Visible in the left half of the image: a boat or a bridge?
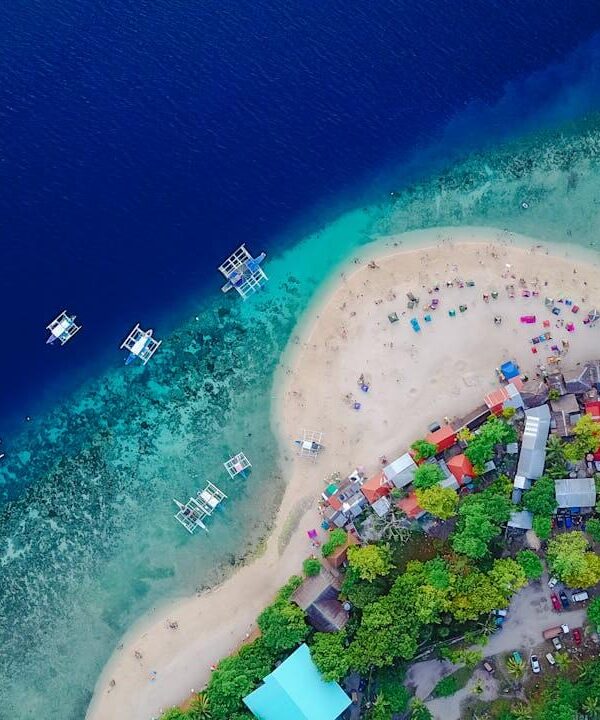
boat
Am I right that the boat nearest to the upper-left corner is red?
No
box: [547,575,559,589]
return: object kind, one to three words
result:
vehicle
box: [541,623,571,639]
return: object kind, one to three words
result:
vehicle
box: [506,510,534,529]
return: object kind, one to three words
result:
shed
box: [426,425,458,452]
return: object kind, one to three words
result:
house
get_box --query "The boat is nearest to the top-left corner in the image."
[44,313,78,349]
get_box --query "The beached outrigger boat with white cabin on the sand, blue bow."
[289,430,324,460]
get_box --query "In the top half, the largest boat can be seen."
[217,245,270,300]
